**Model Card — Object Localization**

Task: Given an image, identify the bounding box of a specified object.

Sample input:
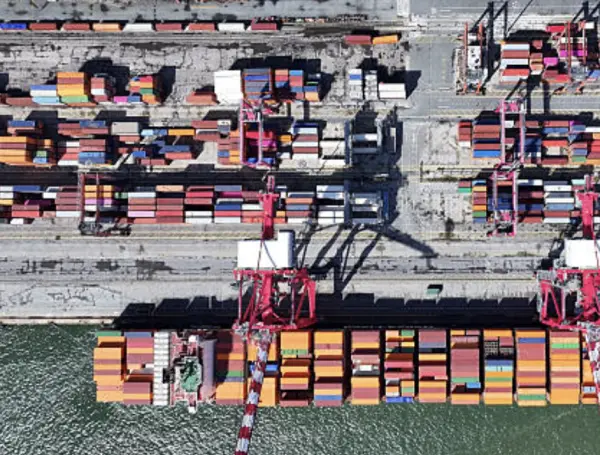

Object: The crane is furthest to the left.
[77,172,129,238]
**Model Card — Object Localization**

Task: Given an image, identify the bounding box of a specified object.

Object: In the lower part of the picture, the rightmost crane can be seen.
[534,173,600,437]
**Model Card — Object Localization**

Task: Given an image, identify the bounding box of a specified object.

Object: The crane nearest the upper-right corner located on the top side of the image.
[556,18,588,87]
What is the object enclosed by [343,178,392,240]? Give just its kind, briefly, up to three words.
crane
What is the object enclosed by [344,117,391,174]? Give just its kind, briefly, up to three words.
crane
